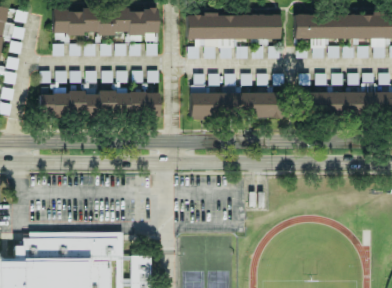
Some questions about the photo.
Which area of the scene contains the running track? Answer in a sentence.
The running track is in the bottom right part of the image.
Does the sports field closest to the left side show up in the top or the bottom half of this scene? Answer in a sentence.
Seen from above, the sports field closest to the left side lies in the bottom half of the view.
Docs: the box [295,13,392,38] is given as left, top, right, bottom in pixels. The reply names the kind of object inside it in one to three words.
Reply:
building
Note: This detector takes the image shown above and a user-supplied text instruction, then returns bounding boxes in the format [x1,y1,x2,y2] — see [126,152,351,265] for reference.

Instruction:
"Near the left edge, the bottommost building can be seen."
[0,232,132,288]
